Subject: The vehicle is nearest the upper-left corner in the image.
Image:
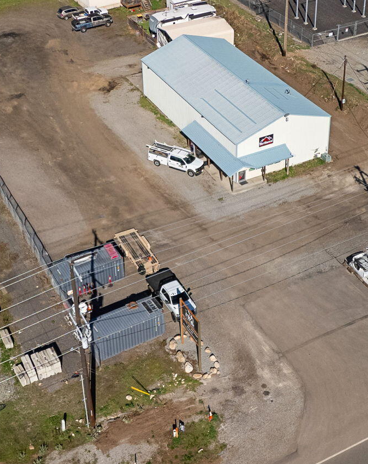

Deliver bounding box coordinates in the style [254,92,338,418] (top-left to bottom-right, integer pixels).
[53,3,82,21]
